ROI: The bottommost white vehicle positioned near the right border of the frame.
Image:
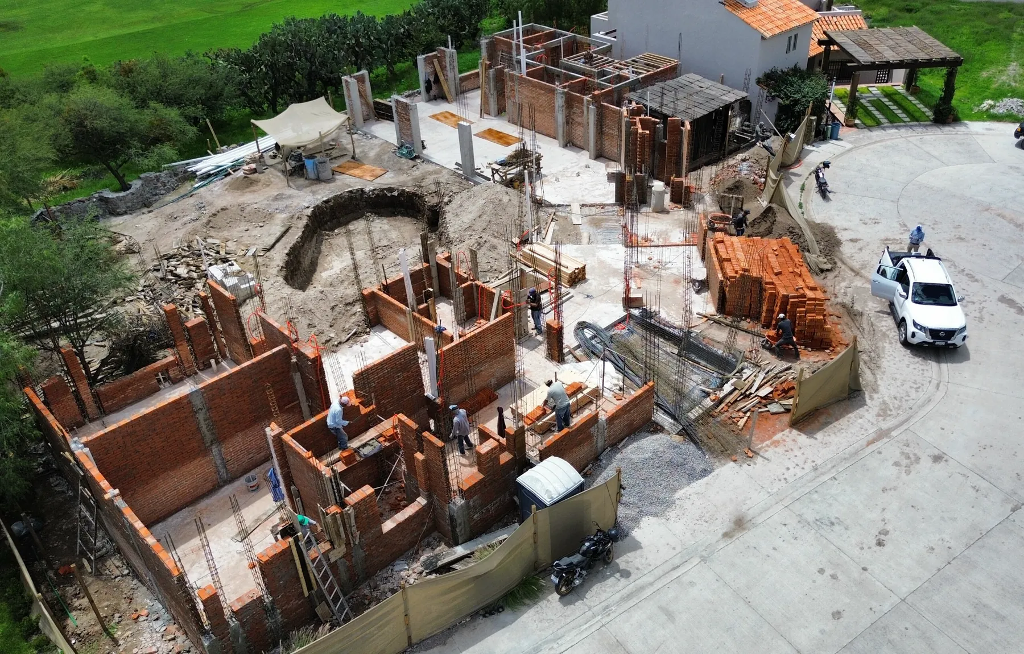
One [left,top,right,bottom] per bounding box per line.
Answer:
[864,247,976,352]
